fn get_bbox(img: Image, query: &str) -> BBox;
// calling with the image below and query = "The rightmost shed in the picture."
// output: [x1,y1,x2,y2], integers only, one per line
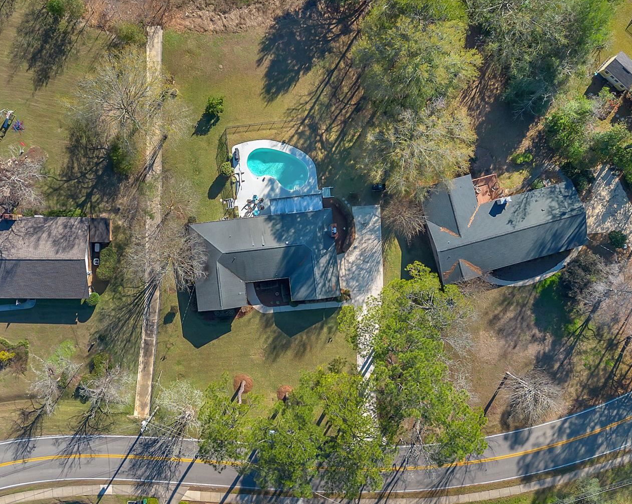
[599,52,632,93]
